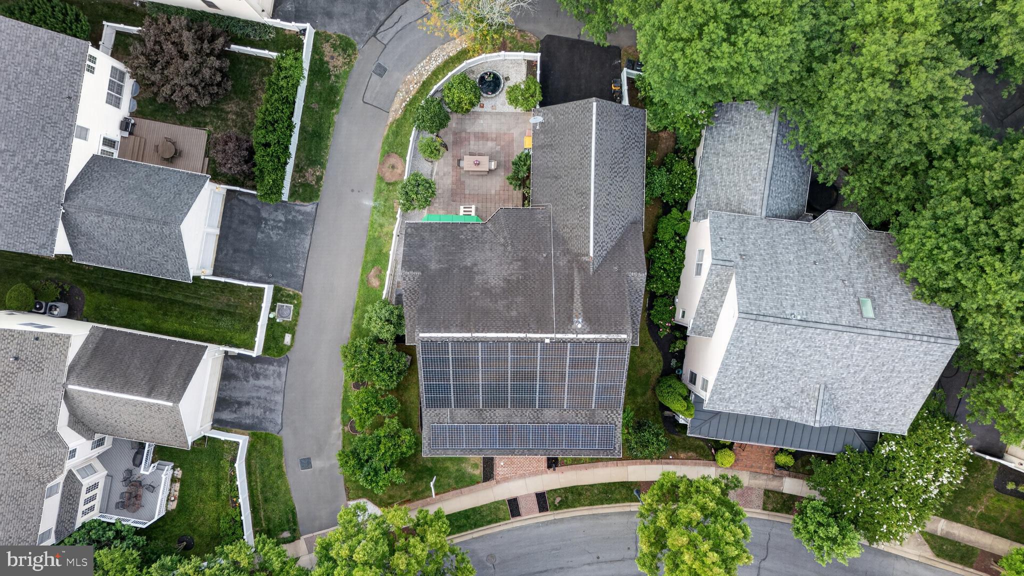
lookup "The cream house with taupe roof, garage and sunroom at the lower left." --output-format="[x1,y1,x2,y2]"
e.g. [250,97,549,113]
[0,321,223,561]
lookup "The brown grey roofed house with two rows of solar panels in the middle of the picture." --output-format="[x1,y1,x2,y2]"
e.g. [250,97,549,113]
[392,99,648,458]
